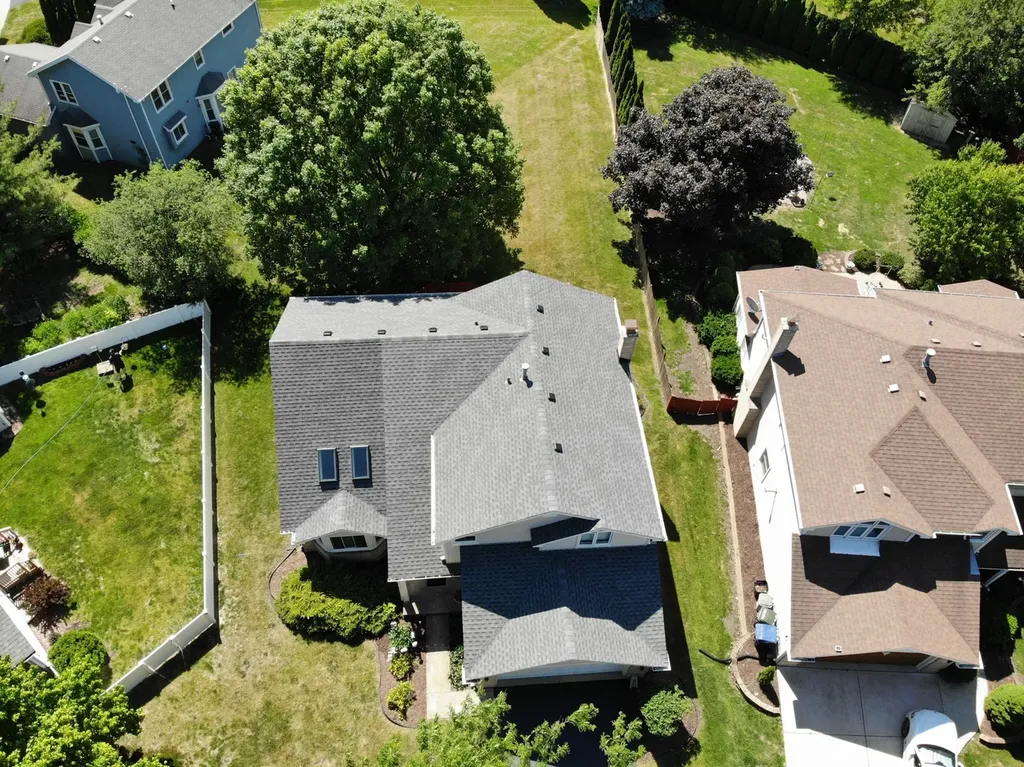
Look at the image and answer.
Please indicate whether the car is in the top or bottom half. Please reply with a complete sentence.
You can find the car in the bottom half.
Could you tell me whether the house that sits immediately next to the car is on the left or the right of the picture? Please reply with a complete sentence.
You can find the house that sits immediately next to the car on the right side of the picture.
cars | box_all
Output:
[901,713,969,767]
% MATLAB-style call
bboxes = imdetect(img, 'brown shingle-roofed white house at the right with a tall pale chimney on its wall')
[729,265,1024,677]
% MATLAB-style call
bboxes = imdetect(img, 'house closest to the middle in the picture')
[271,270,673,691]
